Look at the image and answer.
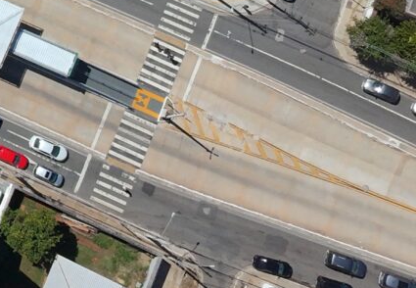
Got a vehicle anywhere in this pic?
Yes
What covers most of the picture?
paved ground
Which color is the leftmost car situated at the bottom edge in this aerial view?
black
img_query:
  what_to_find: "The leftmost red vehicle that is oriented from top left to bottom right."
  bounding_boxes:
[0,143,32,173]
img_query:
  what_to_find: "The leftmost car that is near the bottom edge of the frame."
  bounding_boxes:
[249,252,294,283]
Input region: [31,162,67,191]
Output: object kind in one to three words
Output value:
car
